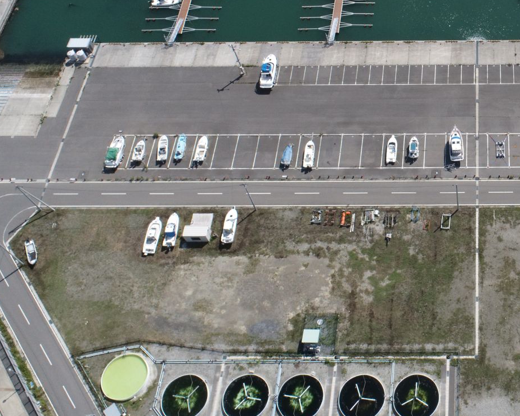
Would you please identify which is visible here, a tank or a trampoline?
tank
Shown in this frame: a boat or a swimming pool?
boat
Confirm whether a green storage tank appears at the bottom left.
Yes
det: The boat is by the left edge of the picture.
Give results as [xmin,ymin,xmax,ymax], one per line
[25,239,37,264]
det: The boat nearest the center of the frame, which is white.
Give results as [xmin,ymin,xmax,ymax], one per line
[222,206,237,245]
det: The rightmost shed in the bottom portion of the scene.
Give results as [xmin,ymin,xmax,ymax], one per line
[302,329,321,352]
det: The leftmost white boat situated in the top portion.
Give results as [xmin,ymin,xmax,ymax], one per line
[106,128,125,169]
